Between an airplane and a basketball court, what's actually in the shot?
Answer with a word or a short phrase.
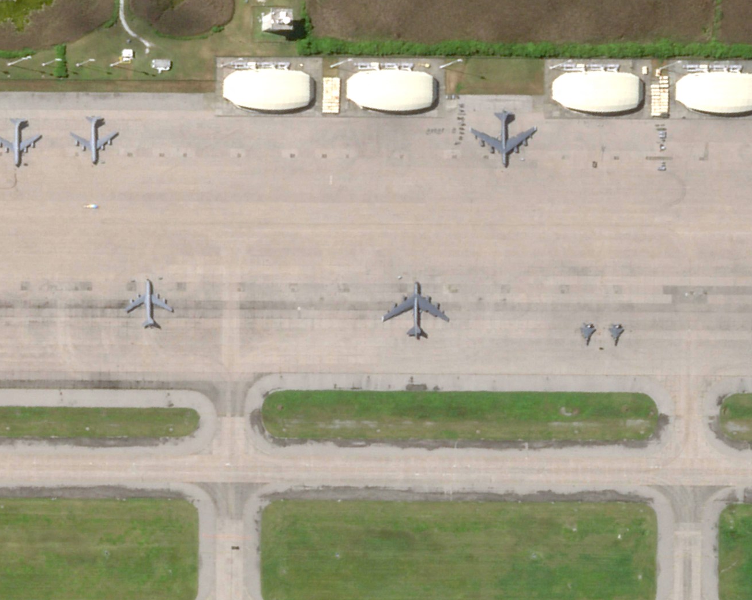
airplane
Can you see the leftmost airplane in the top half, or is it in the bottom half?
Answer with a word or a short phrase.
top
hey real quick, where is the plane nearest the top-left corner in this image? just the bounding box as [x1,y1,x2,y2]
[0,117,41,166]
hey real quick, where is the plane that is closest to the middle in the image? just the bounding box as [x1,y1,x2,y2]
[383,282,450,336]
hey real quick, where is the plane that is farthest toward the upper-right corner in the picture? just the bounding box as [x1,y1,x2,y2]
[472,109,538,165]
